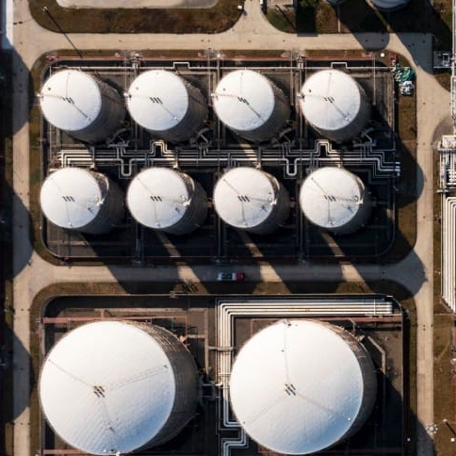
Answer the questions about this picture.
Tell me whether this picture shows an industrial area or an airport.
industrial area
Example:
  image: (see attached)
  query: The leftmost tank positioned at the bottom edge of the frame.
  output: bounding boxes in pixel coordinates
[39,318,198,456]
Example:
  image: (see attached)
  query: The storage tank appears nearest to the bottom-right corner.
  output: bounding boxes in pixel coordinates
[229,313,379,456]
